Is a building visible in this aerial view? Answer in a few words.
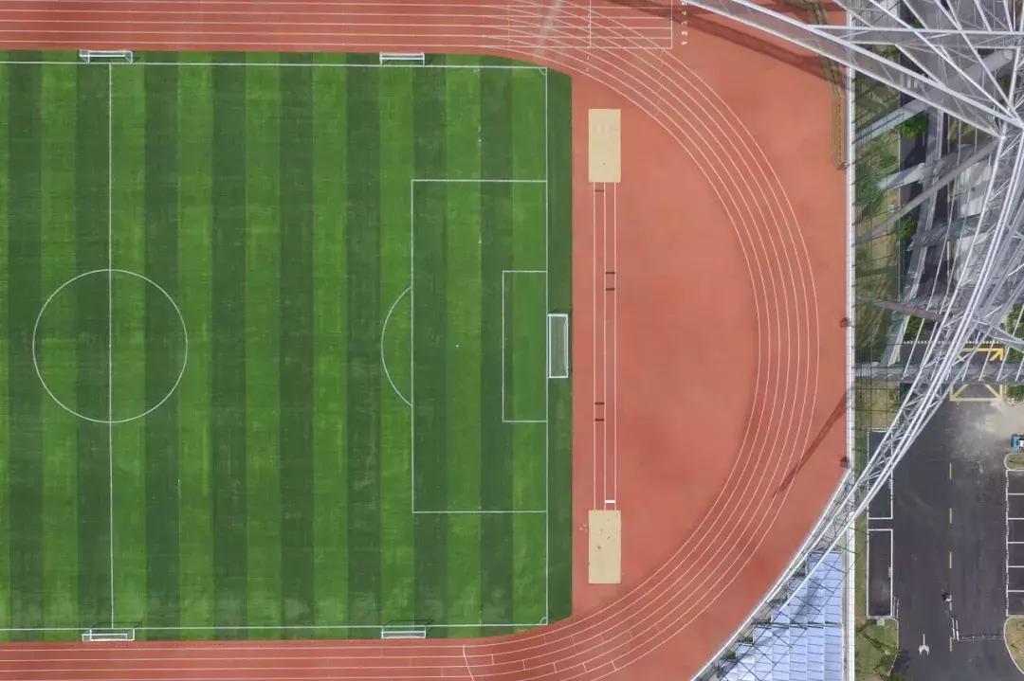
No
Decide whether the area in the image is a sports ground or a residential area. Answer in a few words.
sports ground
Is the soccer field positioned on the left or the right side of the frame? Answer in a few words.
left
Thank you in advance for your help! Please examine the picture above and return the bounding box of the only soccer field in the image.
[0,49,571,641]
